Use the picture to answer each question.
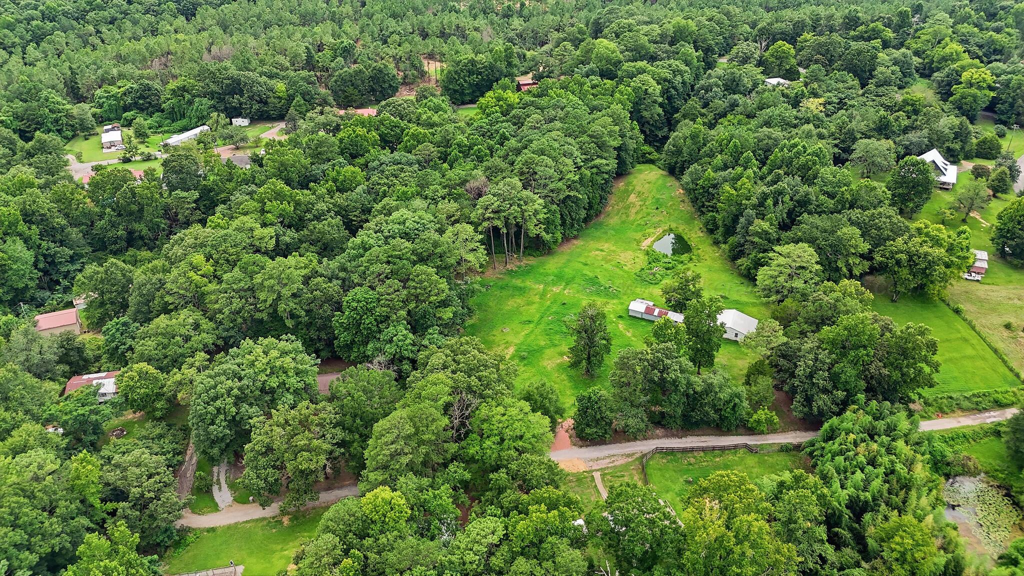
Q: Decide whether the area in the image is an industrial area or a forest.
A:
forest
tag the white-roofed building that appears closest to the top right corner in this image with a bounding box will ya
[912,149,963,191]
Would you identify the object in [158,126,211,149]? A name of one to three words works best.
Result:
house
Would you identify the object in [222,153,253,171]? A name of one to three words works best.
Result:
house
